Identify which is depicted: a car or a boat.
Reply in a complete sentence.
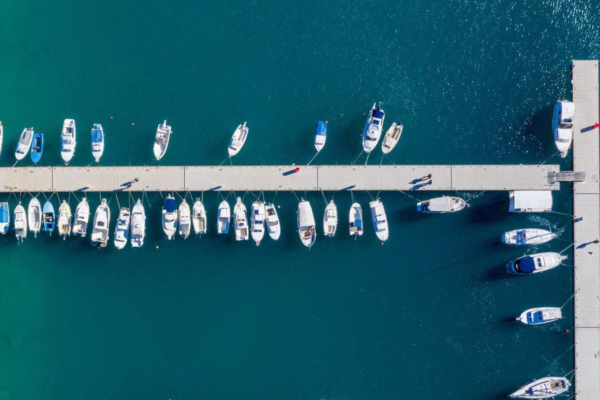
Of the two, only a boat appears.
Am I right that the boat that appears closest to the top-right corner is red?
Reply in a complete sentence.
No, the boat that appears closest to the top-right corner is actually white.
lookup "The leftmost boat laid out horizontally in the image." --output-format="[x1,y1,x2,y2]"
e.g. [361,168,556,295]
[396,190,483,214]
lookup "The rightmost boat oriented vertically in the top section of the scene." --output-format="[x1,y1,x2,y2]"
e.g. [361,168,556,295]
[544,98,577,165]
